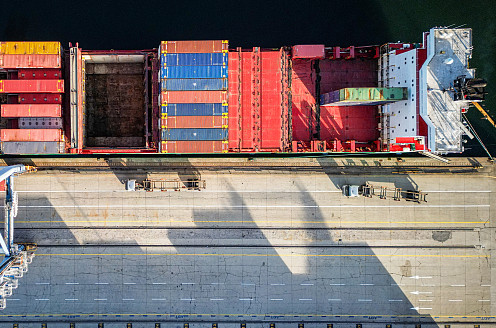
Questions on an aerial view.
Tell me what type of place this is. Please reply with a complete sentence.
This image shows a port.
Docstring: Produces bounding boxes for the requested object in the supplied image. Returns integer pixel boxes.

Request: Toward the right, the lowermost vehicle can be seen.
[341,182,426,199]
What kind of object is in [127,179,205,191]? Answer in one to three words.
vehicle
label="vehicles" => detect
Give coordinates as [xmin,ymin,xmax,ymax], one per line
[341,182,426,199]
[127,179,205,191]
